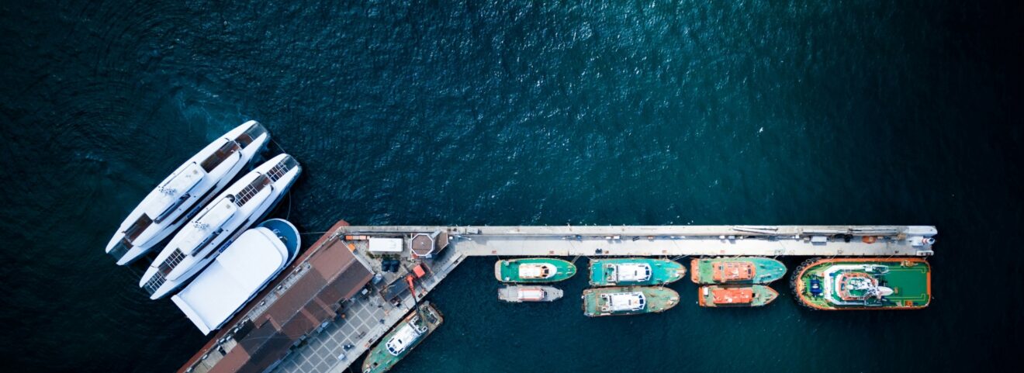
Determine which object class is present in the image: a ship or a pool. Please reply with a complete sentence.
The image shows a ship.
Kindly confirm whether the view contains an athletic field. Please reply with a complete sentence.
No, no athletic field can be seen from above.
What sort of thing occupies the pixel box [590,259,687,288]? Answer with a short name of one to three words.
boat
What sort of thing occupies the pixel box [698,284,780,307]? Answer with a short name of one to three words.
boat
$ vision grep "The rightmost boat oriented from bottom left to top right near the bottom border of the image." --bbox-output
[361,302,442,373]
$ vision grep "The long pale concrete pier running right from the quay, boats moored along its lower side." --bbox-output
[340,225,937,258]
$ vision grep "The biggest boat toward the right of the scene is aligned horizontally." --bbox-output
[789,253,931,313]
